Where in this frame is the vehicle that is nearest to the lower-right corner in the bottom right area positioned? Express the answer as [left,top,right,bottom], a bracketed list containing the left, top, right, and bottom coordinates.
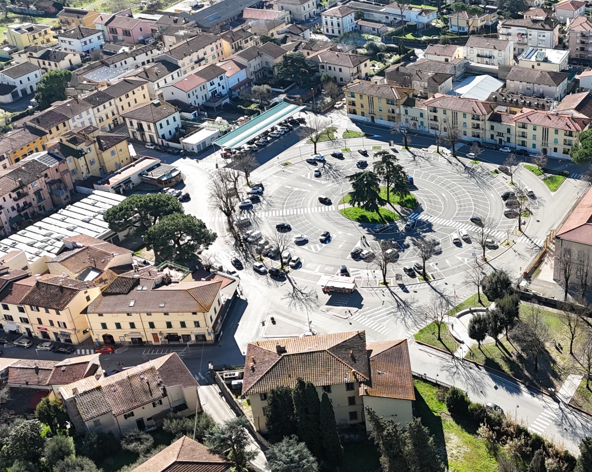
[487,401,505,416]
